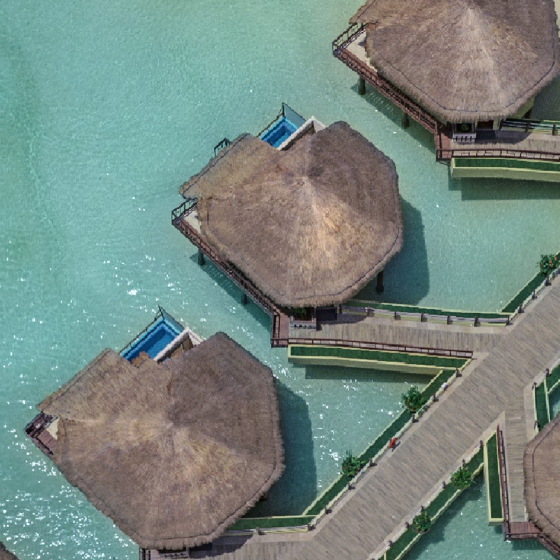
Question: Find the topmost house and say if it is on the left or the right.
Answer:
right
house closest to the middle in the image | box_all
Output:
[163,104,405,347]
